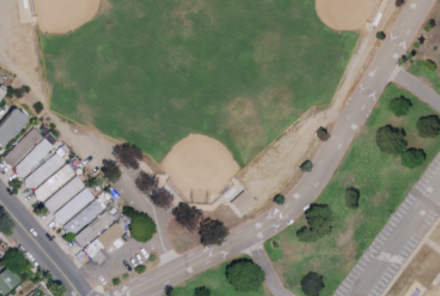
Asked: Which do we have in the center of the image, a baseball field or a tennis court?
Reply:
baseball field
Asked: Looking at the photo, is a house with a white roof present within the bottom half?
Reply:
Yes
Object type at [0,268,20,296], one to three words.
house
